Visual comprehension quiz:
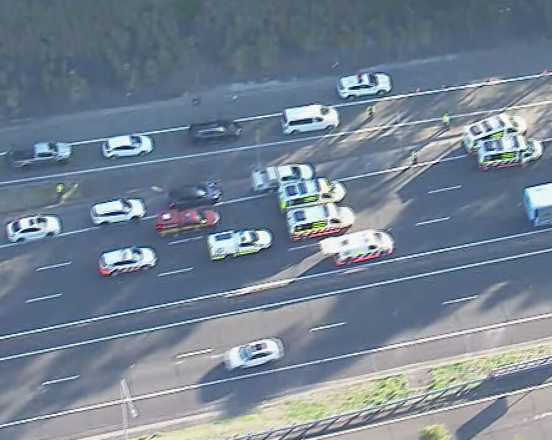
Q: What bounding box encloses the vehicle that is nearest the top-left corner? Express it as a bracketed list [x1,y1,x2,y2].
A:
[9,140,71,170]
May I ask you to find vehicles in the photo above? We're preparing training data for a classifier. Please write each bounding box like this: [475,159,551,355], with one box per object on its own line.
[474,132,545,173]
[91,198,146,229]
[101,246,157,278]
[9,140,71,170]
[156,207,219,238]
[7,215,62,244]
[284,202,356,244]
[249,165,314,195]
[276,175,348,215]
[523,181,552,226]
[207,230,271,263]
[101,133,154,162]
[165,180,227,210]
[460,113,529,158]
[338,72,391,102]
[282,105,340,137]
[185,118,246,148]
[224,340,283,372]
[321,233,394,268]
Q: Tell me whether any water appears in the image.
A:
No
